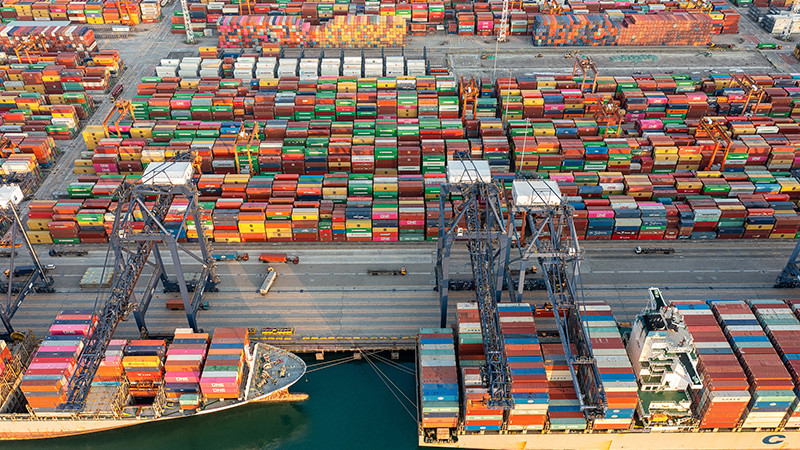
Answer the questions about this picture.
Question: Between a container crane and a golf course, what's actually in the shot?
container crane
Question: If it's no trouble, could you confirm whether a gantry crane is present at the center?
Yes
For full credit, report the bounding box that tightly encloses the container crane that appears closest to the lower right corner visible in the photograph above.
[769,234,800,287]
